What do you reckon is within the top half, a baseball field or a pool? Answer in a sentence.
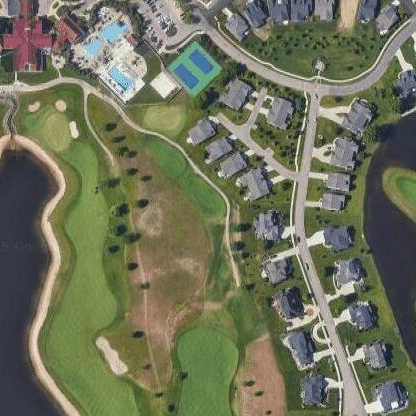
Looking within the top half, you will find a pool.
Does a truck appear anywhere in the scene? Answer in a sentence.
No, no truck is visible in the scene.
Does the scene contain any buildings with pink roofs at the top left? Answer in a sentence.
Yes, a building with a pink roof can be seen at the top left.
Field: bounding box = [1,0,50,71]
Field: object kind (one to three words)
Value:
building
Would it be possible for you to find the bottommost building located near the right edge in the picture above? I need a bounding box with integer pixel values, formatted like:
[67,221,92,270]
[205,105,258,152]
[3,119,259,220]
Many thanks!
[377,380,413,414]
